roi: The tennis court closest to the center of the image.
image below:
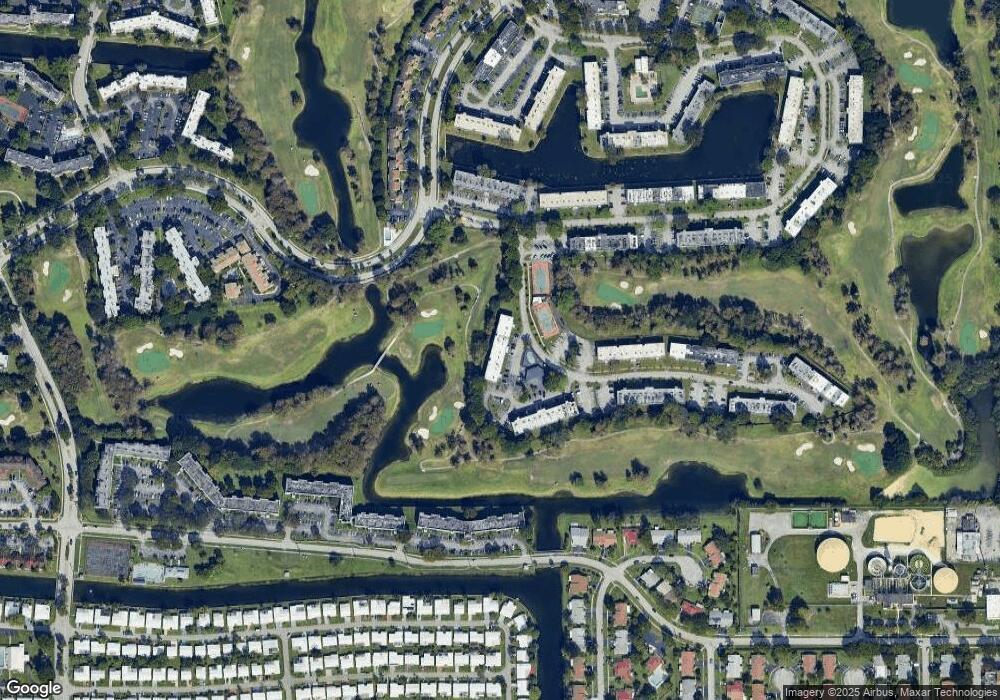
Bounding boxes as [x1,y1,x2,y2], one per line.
[533,304,560,337]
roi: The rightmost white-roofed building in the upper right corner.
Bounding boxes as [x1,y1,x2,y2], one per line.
[848,72,864,144]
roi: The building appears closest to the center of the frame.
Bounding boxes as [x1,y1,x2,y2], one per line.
[485,313,514,382]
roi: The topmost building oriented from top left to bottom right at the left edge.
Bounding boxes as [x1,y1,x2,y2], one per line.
[0,60,62,103]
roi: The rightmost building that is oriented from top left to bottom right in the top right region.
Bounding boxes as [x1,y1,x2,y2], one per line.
[770,0,838,45]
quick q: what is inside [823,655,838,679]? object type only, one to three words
house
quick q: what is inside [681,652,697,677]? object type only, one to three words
house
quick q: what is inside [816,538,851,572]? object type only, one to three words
storage tank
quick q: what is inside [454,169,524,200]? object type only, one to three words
building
